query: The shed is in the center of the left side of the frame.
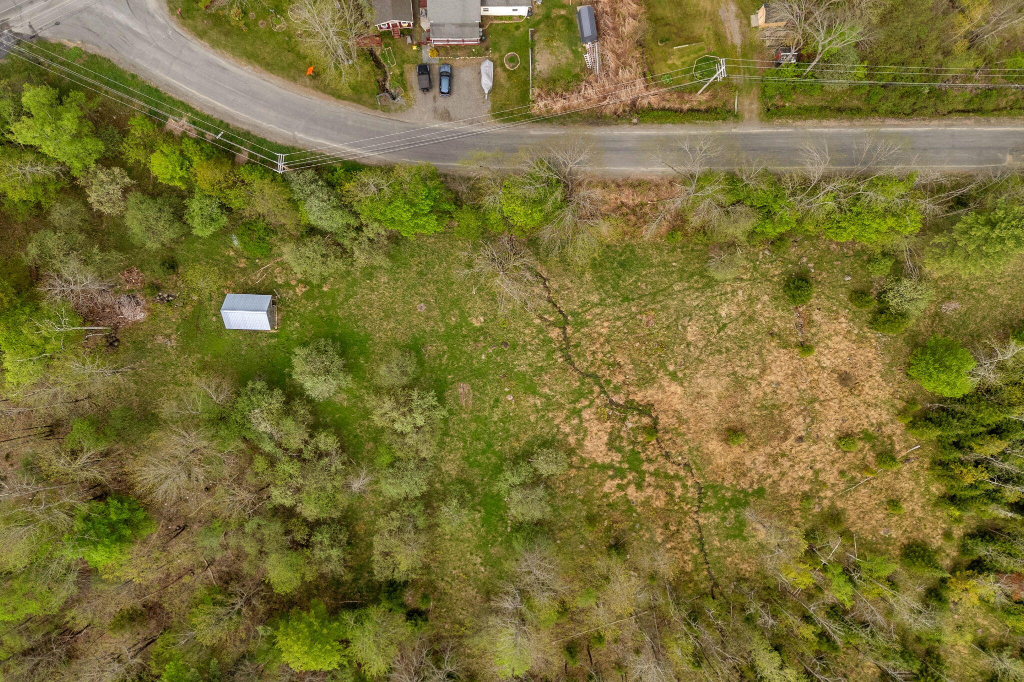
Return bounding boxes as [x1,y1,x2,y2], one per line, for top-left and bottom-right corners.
[222,294,277,330]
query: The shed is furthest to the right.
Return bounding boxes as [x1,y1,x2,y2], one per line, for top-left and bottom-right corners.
[751,0,799,28]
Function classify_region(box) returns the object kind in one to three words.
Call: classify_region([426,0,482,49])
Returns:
house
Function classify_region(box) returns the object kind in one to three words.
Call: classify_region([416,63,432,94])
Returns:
car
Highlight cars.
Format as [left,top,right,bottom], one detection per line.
[437,63,452,96]
[416,63,432,94]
